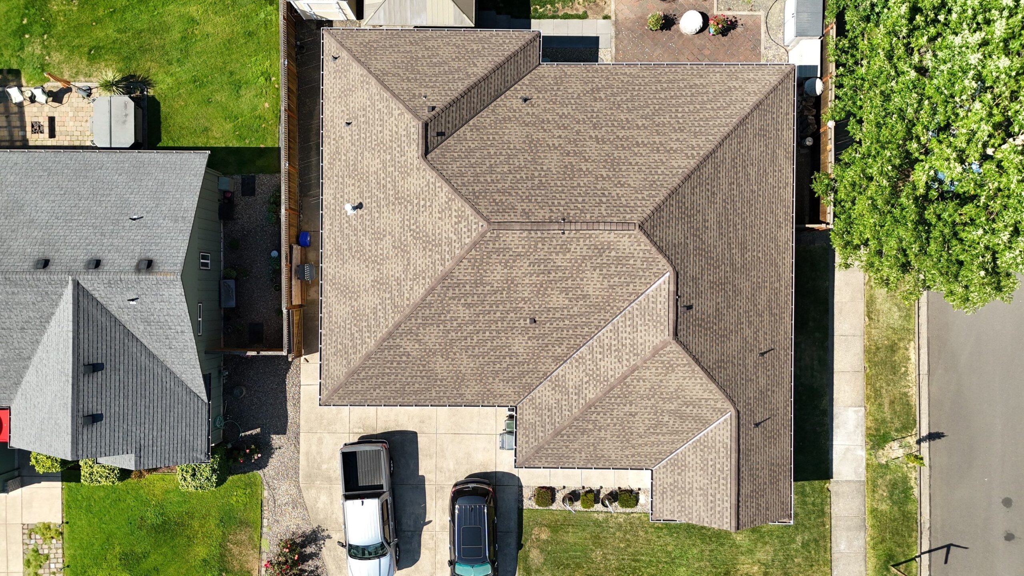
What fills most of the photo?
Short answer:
buildings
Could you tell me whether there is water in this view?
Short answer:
No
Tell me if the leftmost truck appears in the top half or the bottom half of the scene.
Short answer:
bottom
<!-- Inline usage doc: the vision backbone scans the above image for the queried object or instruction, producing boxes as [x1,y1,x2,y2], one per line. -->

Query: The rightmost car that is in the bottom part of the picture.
[445,475,503,576]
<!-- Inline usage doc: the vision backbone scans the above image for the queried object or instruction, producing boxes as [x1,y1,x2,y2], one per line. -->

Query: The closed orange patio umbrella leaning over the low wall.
[44,73,85,91]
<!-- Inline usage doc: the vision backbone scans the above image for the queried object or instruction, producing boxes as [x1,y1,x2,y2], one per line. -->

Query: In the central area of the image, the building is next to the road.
[319,28,795,535]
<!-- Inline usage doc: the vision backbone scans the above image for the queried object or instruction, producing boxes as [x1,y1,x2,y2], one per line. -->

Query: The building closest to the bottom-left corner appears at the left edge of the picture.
[0,149,223,495]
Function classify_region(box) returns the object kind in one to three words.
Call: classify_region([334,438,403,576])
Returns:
truck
